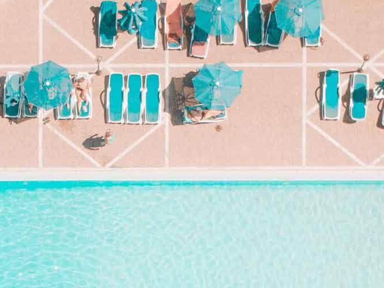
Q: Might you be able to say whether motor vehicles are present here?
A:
No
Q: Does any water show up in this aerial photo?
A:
Yes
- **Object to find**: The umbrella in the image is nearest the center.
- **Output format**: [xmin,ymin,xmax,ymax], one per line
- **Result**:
[194,58,242,106]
